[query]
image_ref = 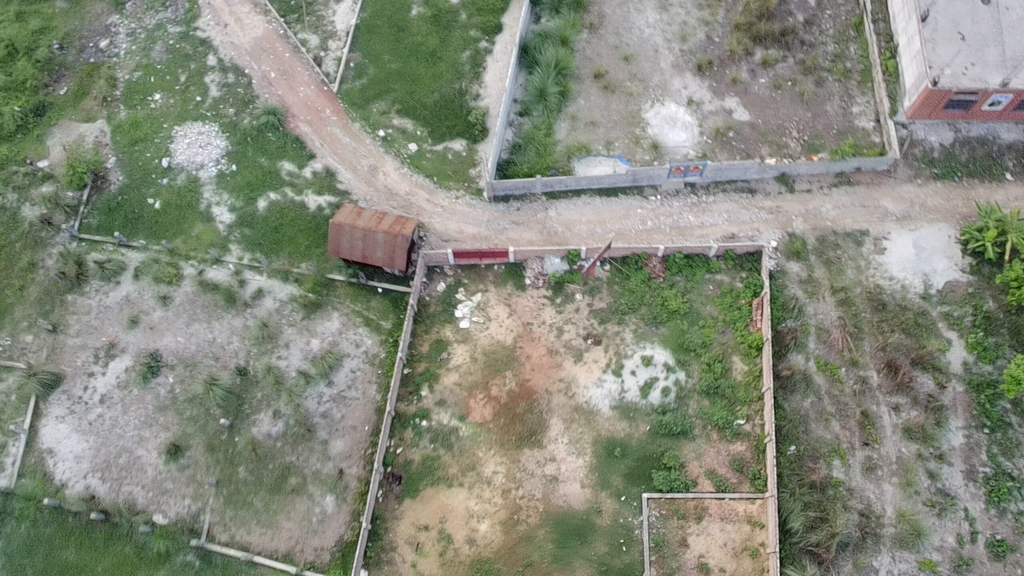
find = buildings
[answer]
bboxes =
[879,0,1024,126]
[328,203,419,280]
